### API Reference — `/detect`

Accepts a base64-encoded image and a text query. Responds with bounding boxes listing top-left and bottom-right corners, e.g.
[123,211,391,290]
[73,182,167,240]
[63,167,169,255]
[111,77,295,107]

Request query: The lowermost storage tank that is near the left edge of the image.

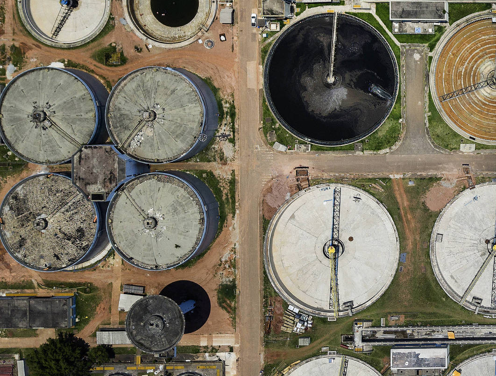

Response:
[0,169,111,273]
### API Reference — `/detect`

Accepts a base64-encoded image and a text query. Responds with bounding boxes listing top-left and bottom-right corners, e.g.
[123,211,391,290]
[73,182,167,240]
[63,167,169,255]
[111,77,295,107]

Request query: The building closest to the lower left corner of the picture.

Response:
[0,297,77,328]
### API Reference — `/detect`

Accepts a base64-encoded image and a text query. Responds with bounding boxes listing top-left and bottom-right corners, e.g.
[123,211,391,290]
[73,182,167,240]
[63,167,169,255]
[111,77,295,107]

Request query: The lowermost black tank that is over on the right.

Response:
[265,10,400,147]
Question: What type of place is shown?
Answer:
industrial area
